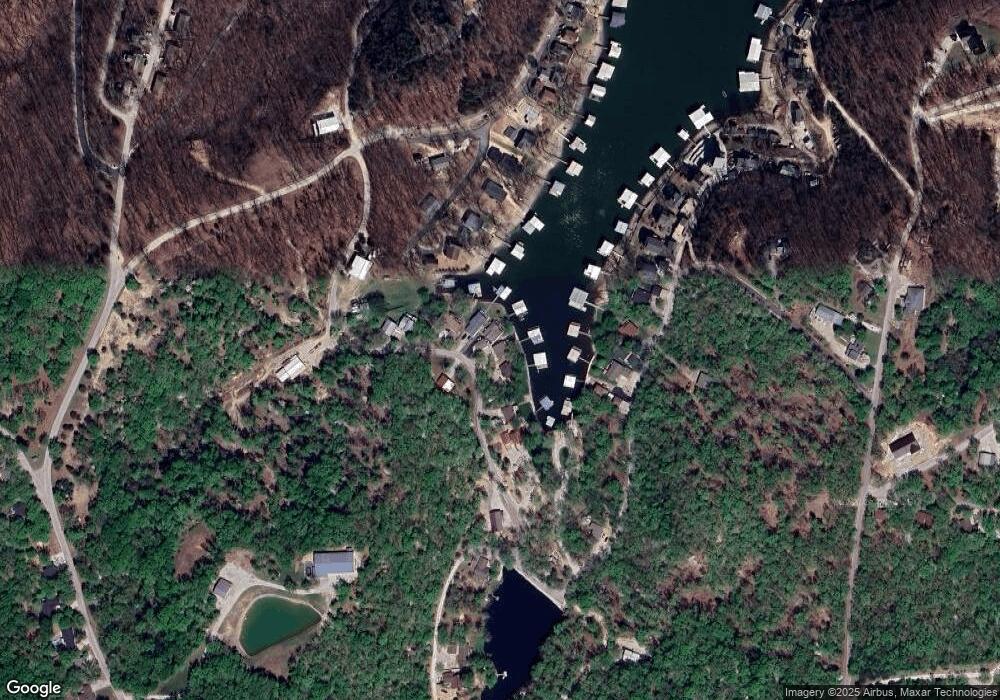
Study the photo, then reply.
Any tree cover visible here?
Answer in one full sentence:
Yes, some tree cover is visible.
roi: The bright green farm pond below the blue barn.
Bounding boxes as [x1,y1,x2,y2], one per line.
[240,597,320,656]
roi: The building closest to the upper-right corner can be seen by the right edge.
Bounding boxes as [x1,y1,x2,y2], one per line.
[957,21,988,55]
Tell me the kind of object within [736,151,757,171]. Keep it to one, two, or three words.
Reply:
house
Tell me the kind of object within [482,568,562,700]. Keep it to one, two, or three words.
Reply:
pond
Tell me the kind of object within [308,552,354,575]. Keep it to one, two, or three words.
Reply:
barn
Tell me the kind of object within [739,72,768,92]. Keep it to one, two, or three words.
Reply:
pier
